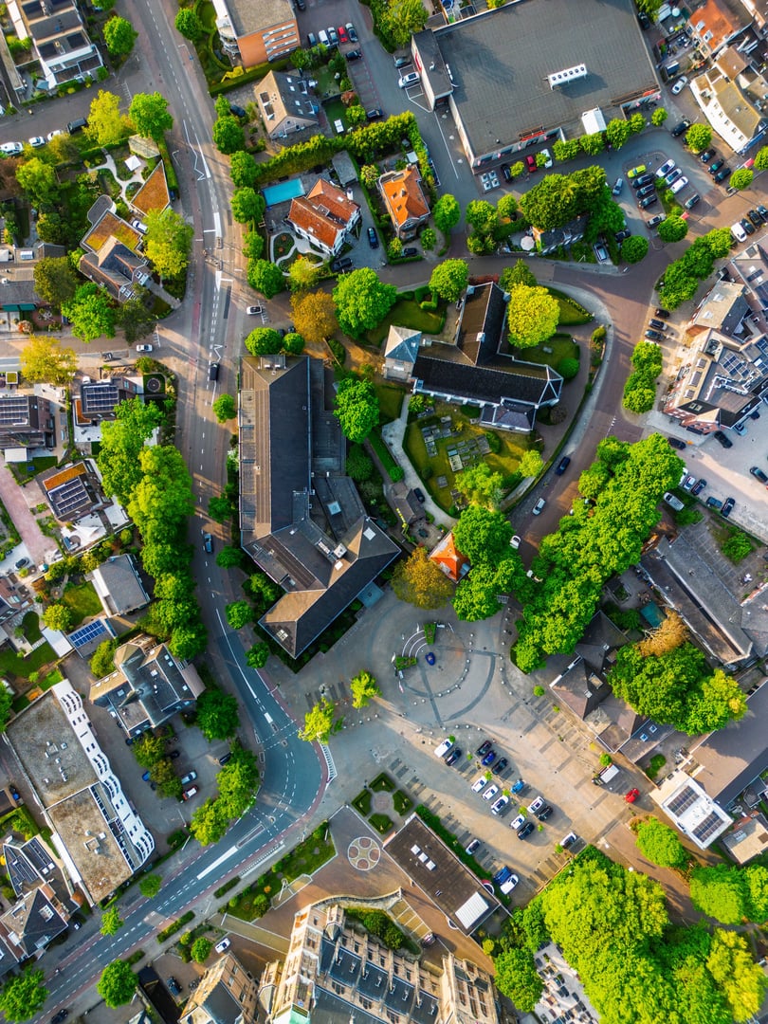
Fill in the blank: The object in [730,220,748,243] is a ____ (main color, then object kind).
white vehicle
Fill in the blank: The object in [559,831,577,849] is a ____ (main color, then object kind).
white car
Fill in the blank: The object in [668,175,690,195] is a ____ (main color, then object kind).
white vehicle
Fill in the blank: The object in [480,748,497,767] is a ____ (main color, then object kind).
blue car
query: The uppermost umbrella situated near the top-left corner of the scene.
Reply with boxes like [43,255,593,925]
[124,155,141,171]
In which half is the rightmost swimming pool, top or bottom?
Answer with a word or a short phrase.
top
